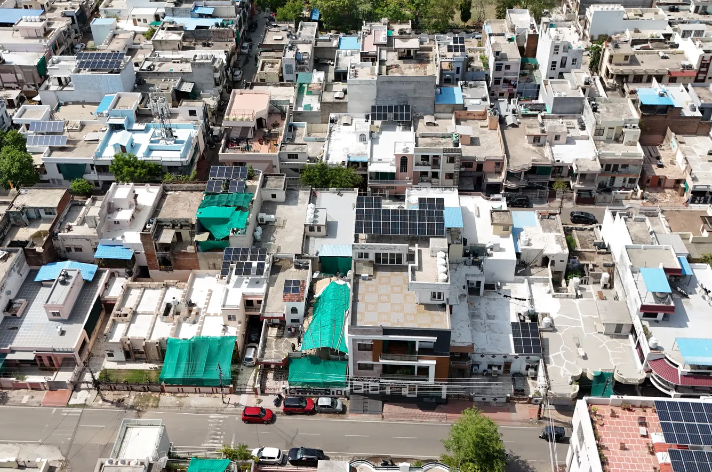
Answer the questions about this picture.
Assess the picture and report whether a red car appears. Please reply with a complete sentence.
Yes, this view includes a red car.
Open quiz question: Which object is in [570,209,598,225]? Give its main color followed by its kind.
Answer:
black car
